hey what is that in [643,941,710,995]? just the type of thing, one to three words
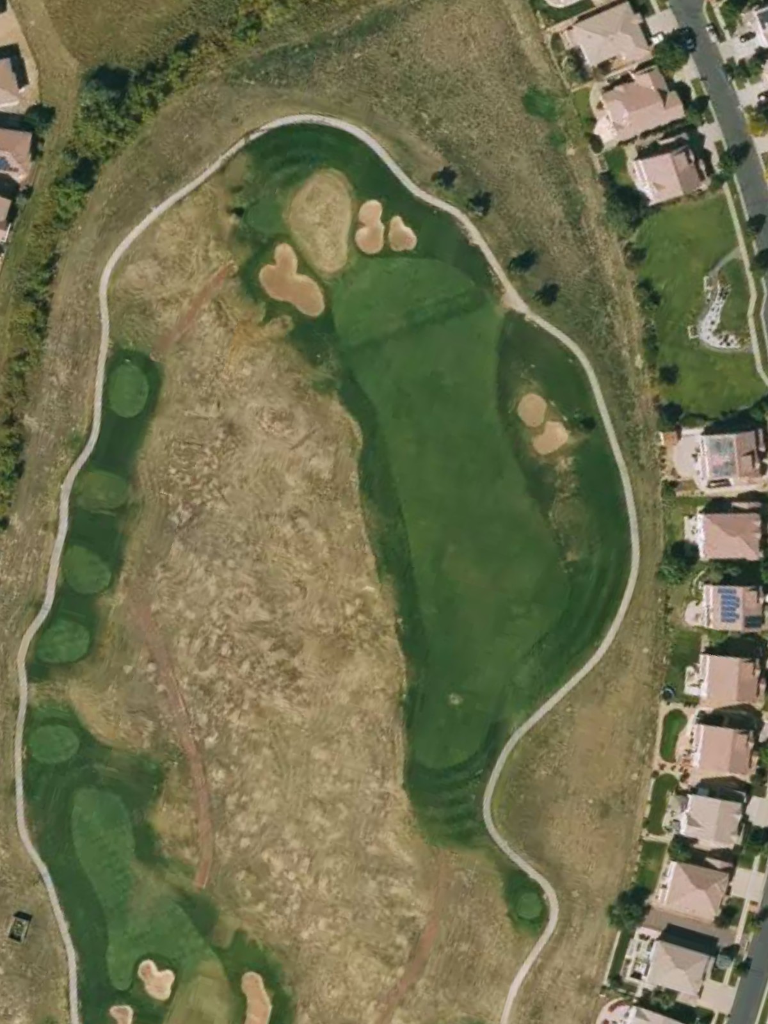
house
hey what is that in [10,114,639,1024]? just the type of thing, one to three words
golf course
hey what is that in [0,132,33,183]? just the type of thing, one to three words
house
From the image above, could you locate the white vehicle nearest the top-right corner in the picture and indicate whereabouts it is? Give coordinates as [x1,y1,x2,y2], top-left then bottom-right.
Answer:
[705,26,717,42]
